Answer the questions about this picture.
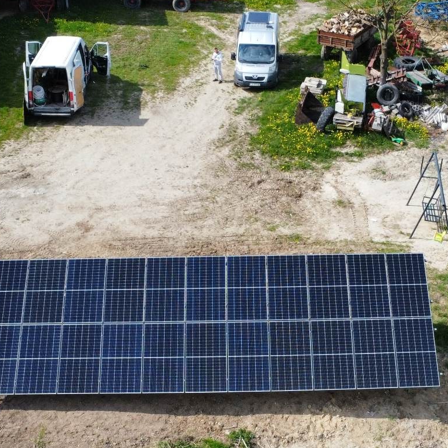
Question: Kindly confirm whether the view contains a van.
Yes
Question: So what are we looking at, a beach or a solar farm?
solar farm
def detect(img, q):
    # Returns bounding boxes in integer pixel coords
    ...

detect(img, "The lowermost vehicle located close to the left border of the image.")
[21,41,108,115]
